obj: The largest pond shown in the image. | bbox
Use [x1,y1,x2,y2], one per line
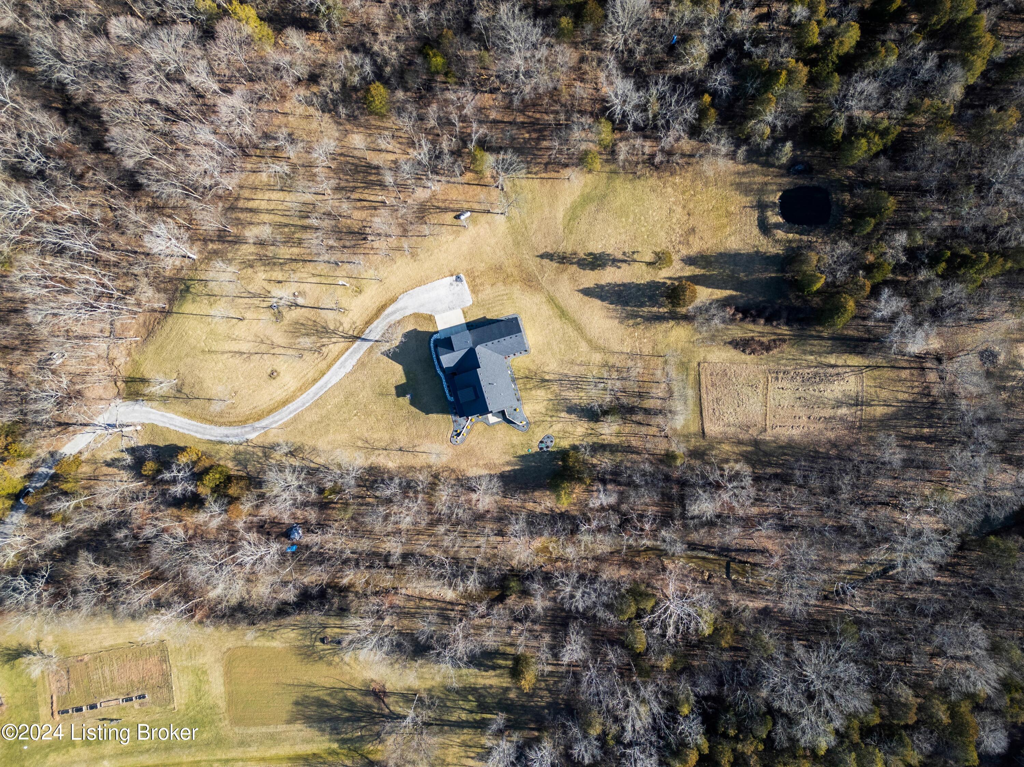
[777,186,831,227]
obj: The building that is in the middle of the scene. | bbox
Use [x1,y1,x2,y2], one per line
[437,316,526,420]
